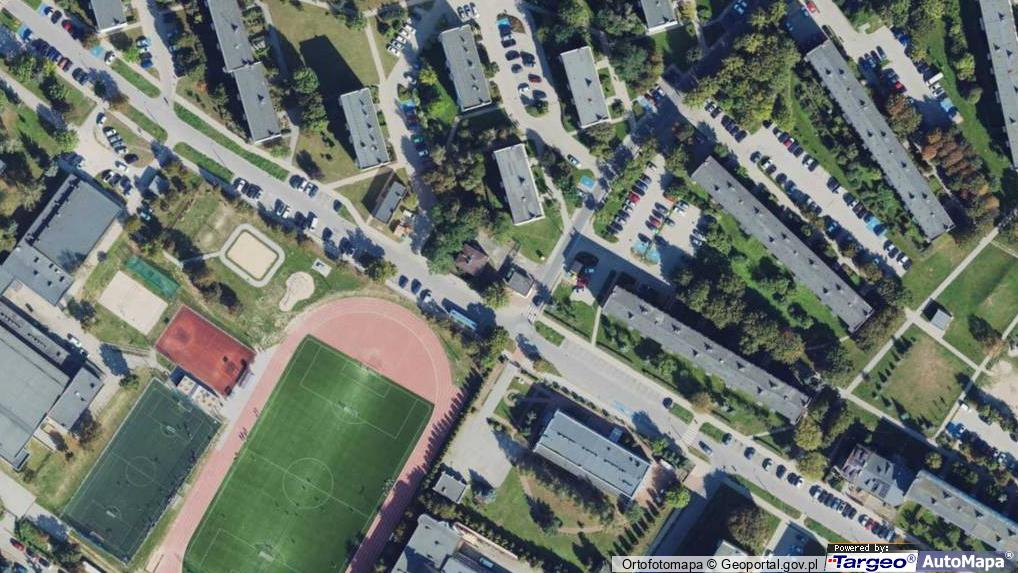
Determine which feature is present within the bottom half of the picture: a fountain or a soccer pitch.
soccer pitch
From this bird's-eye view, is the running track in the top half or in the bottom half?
bottom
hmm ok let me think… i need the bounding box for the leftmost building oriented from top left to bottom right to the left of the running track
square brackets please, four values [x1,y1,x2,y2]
[0,302,72,367]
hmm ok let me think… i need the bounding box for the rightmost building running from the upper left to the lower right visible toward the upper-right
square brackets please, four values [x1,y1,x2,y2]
[805,39,955,243]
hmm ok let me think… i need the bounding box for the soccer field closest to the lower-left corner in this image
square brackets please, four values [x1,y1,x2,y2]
[65,378,221,564]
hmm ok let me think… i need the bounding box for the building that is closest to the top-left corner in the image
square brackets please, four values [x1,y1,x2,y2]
[90,0,128,33]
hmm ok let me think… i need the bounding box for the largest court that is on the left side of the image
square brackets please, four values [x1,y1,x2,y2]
[156,305,254,397]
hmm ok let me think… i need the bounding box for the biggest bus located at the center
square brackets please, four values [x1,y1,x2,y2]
[450,309,478,331]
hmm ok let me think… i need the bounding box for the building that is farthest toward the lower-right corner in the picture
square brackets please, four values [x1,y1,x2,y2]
[904,471,1018,564]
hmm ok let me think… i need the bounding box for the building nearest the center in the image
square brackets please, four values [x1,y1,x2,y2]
[503,267,535,297]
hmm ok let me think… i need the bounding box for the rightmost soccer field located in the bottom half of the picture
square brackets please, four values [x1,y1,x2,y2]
[185,334,434,573]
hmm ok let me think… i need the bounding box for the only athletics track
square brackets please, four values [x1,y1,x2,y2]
[151,295,455,573]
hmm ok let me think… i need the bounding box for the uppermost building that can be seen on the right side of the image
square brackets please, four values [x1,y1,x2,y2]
[635,0,677,32]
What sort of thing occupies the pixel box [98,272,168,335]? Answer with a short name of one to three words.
sports court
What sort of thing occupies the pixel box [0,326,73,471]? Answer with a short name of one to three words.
building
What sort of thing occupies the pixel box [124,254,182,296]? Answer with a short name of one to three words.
sports court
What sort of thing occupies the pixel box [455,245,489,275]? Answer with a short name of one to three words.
house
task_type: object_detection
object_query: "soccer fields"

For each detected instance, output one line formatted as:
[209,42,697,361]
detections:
[65,378,221,564]
[185,334,434,573]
